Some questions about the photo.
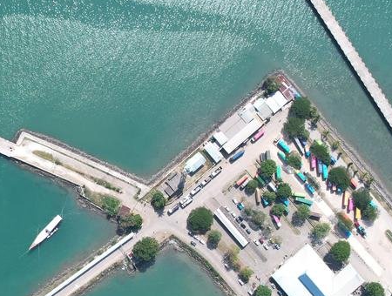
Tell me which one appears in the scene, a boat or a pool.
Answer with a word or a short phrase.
boat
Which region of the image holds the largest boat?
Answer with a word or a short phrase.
bottom left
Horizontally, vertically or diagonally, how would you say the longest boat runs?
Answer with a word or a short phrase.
diagonally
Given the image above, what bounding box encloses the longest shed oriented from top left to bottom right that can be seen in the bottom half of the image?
[213,208,248,247]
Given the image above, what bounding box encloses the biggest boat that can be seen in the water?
[28,214,62,250]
